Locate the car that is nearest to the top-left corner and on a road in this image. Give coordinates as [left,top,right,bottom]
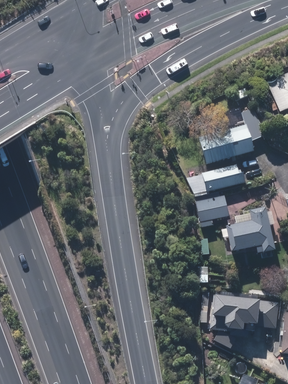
[34,15,52,28]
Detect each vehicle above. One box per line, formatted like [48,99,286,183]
[34,15,52,28]
[156,0,172,8]
[18,252,29,271]
[242,158,258,166]
[94,0,108,6]
[137,31,153,42]
[248,6,268,17]
[36,62,54,70]
[244,168,262,178]
[0,68,12,80]
[165,58,188,74]
[0,148,9,167]
[134,8,150,19]
[159,22,178,34]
